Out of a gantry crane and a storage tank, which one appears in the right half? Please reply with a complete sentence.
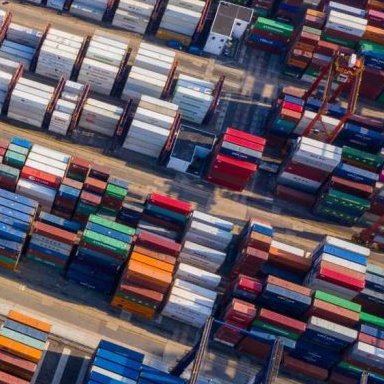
What appears in the right half is a gantry crane.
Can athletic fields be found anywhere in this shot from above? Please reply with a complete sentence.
No, I find no athletic field anywhere in the image.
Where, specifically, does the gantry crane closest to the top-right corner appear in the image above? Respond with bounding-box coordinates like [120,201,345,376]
[287,47,368,154]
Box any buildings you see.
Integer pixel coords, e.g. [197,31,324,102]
[203,1,253,55]
[166,124,216,174]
